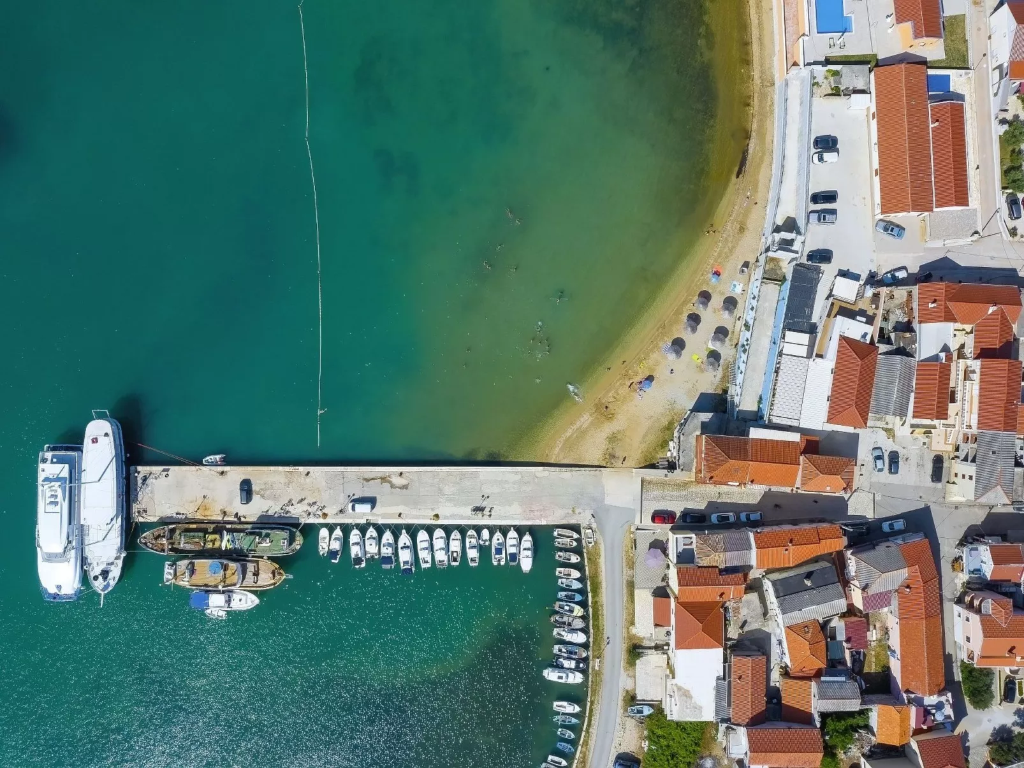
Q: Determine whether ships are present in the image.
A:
Yes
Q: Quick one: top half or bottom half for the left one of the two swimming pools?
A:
top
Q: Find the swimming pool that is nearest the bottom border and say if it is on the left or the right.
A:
right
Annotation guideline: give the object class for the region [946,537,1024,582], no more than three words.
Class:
house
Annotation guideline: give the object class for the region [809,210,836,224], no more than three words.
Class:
car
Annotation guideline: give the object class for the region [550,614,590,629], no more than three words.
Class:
boat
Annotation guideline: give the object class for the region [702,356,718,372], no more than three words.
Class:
umbrella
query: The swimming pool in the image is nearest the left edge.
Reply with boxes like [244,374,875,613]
[814,0,857,36]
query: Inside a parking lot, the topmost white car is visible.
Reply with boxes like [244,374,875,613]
[813,152,838,165]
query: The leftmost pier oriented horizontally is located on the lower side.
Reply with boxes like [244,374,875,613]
[132,466,604,525]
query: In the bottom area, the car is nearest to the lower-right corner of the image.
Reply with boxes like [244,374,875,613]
[1004,677,1016,703]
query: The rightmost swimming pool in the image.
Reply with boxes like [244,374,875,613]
[927,71,953,95]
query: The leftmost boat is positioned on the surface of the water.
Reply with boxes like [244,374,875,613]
[34,441,84,602]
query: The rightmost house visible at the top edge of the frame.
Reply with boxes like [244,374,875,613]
[985,1,1024,88]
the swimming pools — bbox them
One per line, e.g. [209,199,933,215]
[814,0,857,36]
[927,71,953,95]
